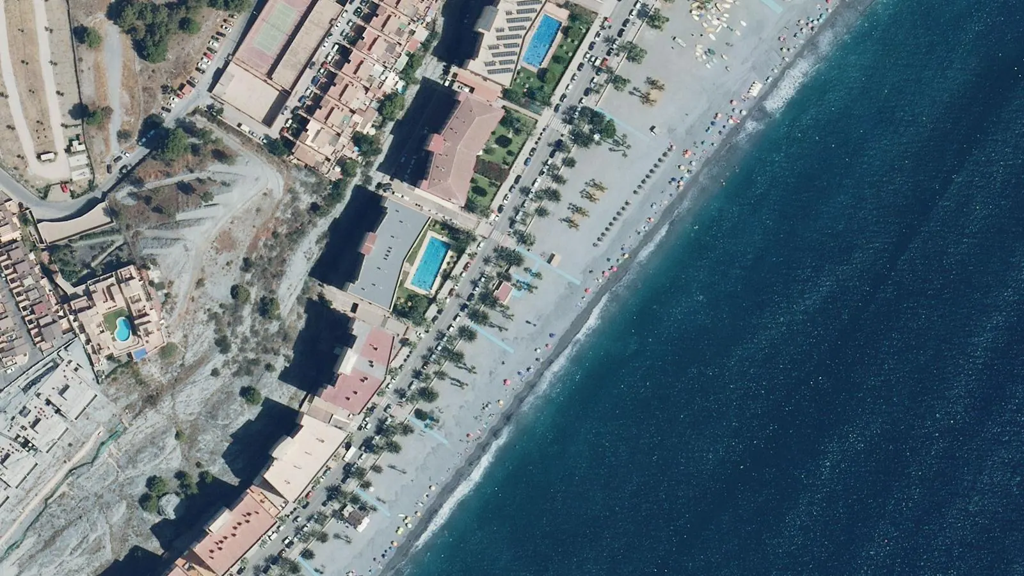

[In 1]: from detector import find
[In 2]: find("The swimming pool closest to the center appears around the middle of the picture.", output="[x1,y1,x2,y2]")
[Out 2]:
[405,232,453,296]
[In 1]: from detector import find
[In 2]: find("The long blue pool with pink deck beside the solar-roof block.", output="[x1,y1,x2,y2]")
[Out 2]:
[520,2,569,73]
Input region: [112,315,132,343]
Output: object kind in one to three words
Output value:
swimming pool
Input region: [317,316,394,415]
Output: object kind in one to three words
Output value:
building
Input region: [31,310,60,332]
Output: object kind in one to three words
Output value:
house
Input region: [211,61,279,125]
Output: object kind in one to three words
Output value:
building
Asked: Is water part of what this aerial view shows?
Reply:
Yes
